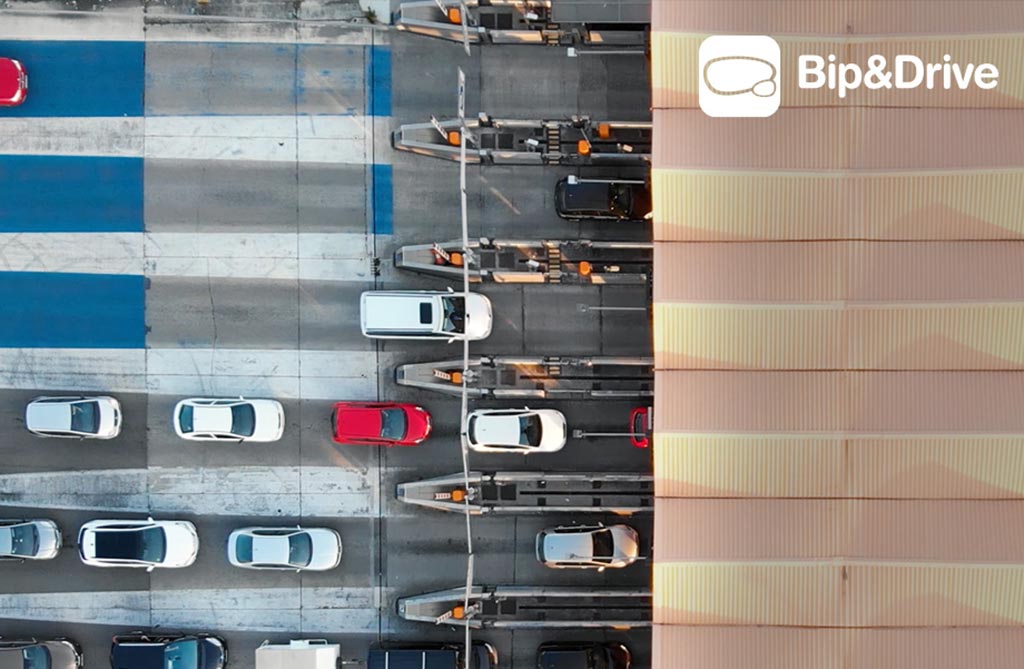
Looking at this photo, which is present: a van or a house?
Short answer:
van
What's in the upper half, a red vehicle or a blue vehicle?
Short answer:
red vehicle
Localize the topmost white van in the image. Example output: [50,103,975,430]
[360,288,492,343]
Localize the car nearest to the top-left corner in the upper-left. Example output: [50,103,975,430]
[0,61,30,106]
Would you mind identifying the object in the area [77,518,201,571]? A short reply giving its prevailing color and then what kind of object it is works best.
white car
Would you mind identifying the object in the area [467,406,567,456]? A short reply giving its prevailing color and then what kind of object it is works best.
white car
